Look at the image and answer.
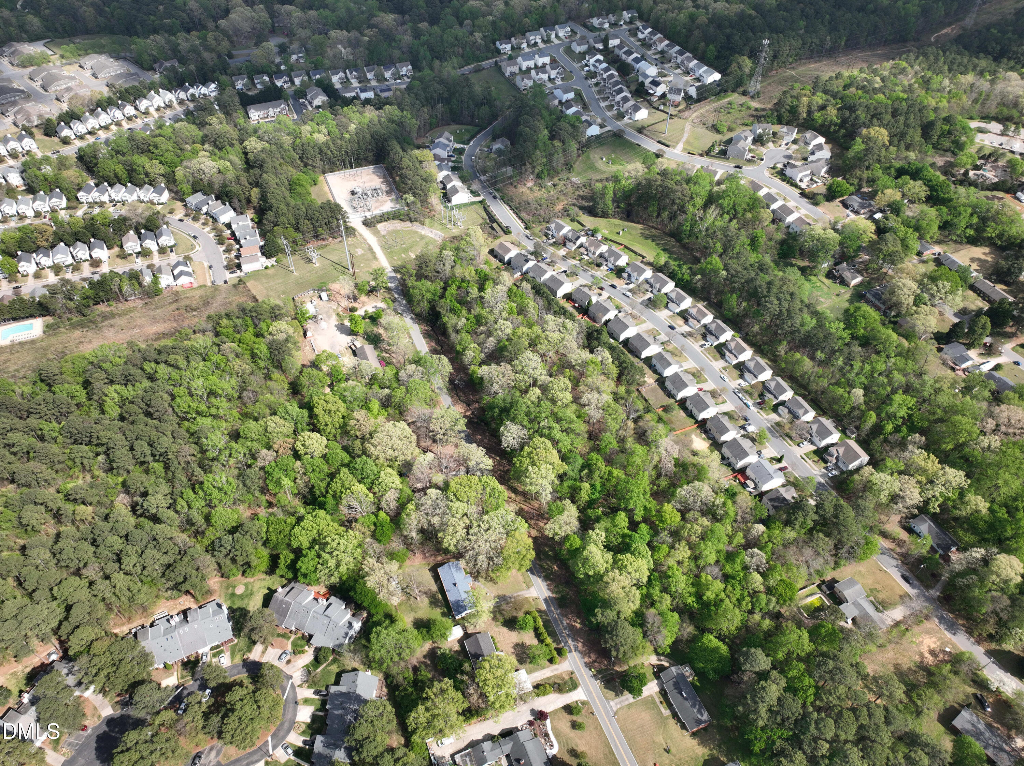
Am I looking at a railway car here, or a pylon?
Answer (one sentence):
Of the two, only a pylon appears.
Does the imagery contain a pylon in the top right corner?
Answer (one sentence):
Yes, I can see a pylon in the top right corner.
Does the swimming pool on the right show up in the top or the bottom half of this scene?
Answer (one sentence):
You can find the swimming pool on the right in the bottom half.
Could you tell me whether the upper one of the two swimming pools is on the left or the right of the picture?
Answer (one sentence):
You can find the upper one of the two swimming pools on the left side of the picture.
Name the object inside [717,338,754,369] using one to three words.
house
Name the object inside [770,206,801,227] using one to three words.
house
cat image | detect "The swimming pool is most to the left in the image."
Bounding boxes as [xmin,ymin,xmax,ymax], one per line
[0,318,43,345]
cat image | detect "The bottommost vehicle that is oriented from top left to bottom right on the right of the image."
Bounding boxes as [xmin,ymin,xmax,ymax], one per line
[973,693,994,713]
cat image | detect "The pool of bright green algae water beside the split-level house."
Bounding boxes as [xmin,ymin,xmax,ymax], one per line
[798,594,832,617]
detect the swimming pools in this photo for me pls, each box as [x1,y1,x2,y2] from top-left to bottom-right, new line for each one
[0,318,43,345]
[798,594,832,617]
